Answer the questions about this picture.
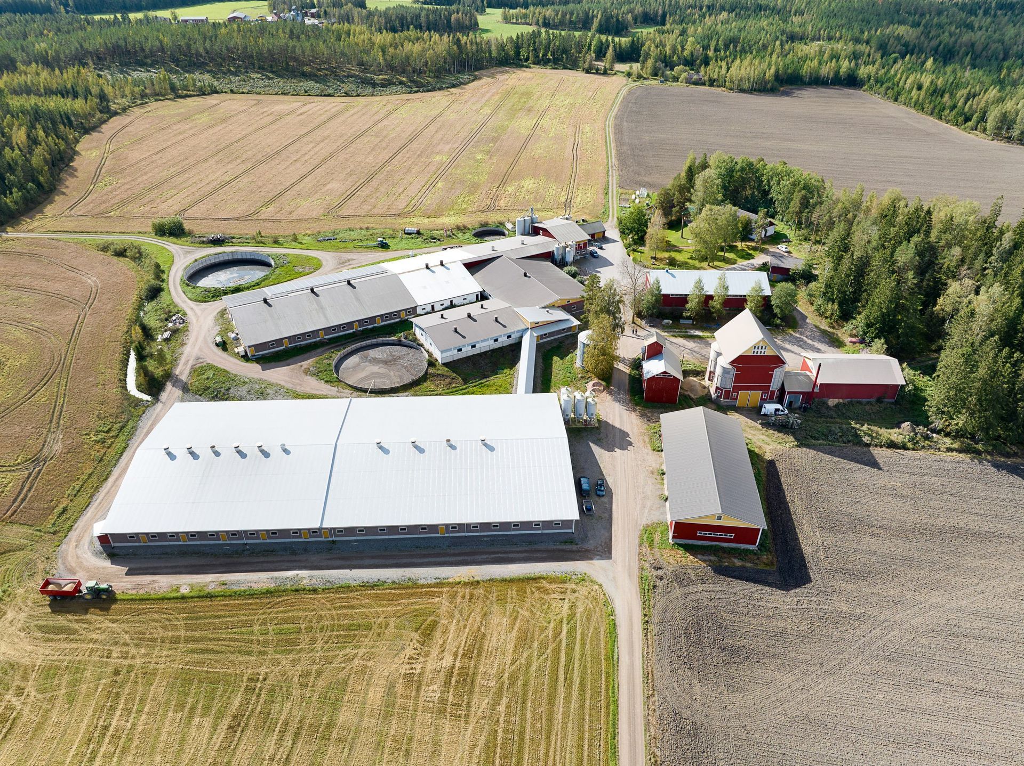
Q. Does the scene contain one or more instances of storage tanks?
Yes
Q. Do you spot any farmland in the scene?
Yes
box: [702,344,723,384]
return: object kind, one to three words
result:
silo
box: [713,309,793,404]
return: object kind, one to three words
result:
barn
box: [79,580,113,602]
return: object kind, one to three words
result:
work vehicle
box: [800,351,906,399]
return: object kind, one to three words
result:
barn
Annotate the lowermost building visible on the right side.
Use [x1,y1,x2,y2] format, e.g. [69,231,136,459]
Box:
[659,406,769,550]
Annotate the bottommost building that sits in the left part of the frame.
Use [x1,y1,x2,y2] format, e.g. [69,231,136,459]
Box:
[90,393,579,548]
